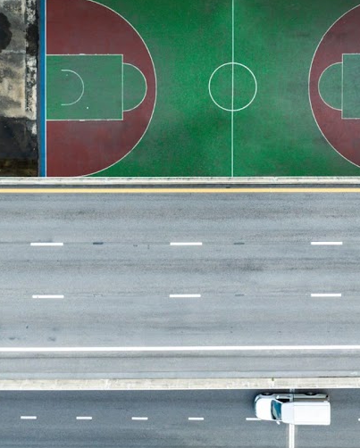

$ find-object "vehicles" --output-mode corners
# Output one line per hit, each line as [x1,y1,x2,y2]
[256,392,330,428]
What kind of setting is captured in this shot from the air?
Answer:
sports ground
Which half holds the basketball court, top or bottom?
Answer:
top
